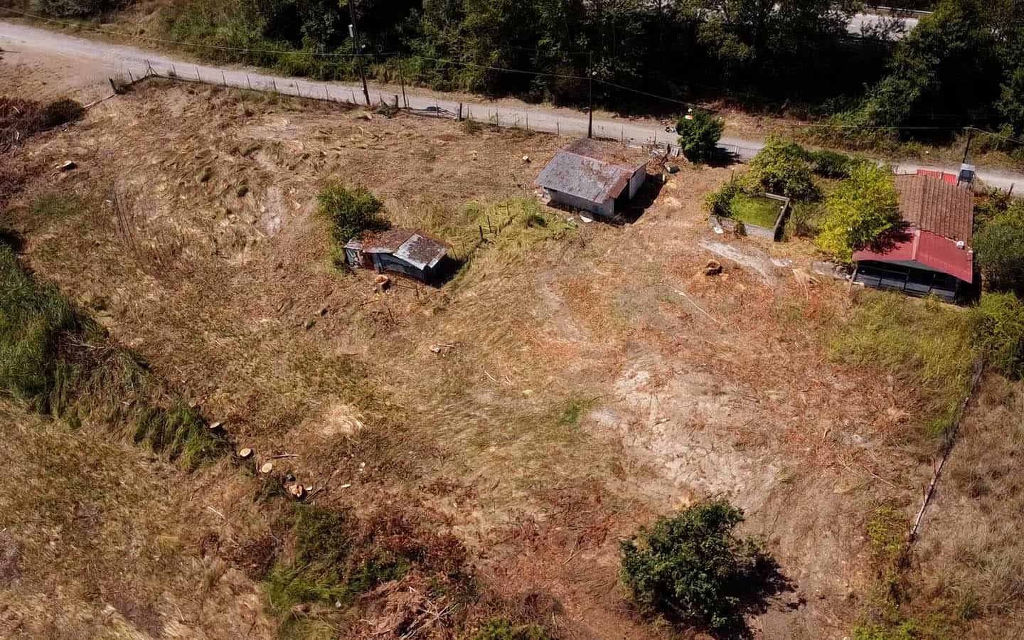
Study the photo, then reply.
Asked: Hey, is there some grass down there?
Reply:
Yes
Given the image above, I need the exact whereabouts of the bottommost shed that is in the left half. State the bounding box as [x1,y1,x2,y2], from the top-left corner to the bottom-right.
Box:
[342,227,449,282]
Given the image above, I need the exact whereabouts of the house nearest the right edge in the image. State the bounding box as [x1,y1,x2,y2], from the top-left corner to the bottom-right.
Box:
[852,166,976,307]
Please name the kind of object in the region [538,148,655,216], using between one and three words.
shed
